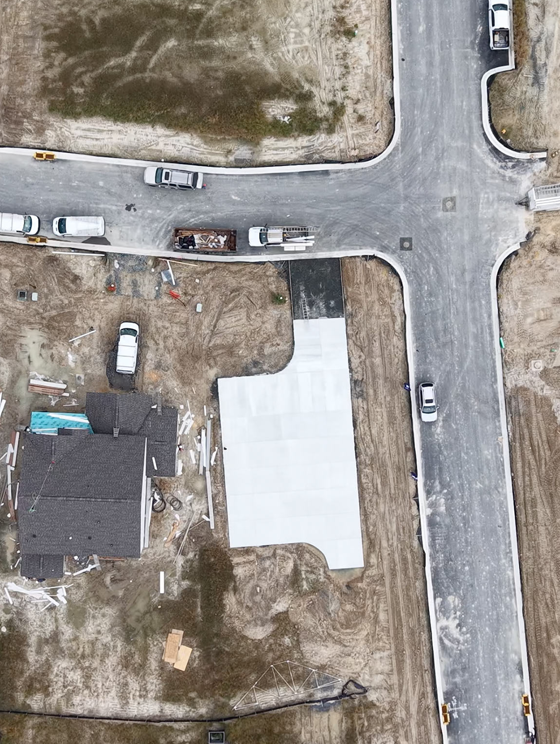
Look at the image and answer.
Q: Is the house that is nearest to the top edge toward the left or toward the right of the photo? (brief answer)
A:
left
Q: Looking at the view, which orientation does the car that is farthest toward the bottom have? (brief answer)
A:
from top to bottom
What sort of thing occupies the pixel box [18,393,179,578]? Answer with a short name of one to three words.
house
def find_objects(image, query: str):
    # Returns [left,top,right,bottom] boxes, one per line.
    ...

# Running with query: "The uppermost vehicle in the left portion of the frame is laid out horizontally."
[144,165,204,191]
